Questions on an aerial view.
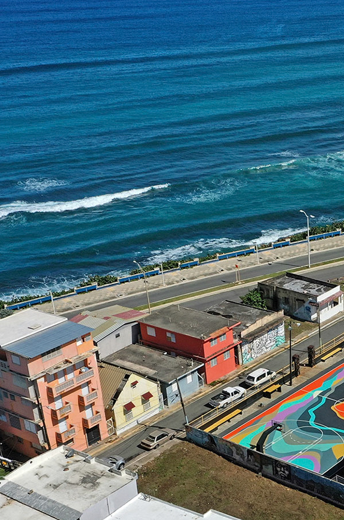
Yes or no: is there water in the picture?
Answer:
Yes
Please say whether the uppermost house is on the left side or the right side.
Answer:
right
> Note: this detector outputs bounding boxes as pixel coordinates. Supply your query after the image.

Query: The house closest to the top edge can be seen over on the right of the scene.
[258,272,344,321]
